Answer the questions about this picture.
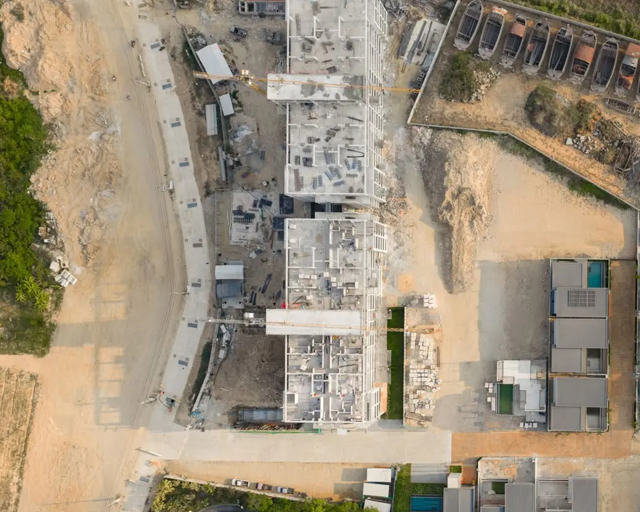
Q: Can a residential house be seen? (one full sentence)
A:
Yes, a residential house can be made out from above.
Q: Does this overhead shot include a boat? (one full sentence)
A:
Yes, there is a boat in the image.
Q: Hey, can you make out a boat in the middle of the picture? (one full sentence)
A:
No, there's no boat to be seen in the middle of the picture.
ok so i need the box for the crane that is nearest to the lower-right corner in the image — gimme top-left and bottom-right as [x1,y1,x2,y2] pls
[208,310,439,333]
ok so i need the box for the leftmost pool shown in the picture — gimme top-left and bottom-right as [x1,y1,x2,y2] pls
[410,497,441,512]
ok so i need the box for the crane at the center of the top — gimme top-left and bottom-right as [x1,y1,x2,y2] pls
[195,68,420,108]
